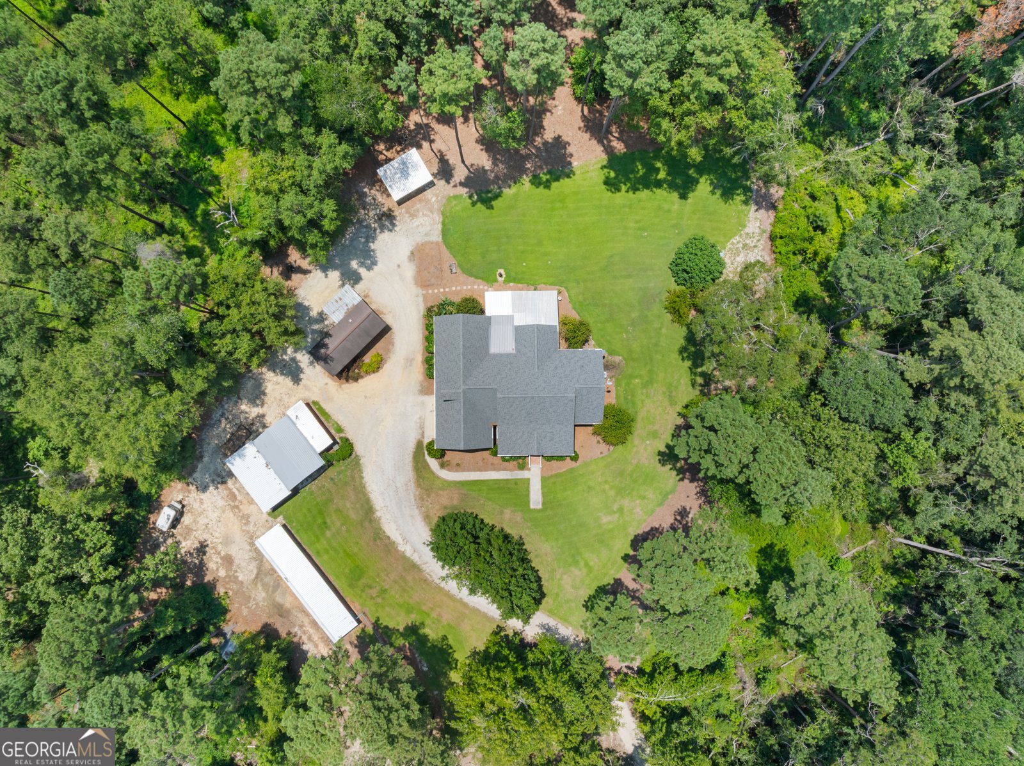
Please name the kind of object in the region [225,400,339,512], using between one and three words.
building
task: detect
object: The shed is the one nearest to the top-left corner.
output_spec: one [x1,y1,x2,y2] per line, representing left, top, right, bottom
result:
[377,148,433,205]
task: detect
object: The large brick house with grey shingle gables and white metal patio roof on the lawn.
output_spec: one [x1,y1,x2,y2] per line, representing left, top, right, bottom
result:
[433,291,604,466]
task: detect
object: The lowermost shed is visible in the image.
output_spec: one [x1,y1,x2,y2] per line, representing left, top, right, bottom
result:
[255,522,360,645]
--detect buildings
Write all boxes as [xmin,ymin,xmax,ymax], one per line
[309,285,388,375]
[377,148,433,205]
[433,291,604,466]
[255,522,360,645]
[225,400,339,512]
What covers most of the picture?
trees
